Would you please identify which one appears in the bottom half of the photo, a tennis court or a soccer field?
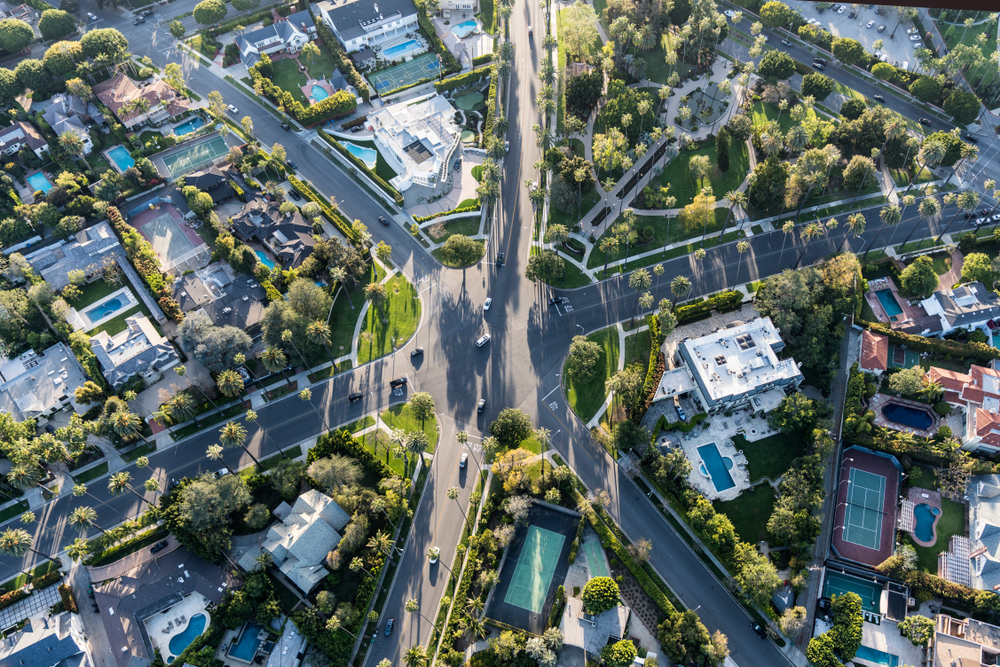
tennis court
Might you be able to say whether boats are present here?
No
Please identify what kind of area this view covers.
residential area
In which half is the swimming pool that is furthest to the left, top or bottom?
top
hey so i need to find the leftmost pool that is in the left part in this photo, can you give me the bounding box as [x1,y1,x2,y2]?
[25,170,51,195]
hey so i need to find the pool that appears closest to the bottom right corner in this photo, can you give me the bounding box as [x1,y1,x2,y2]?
[851,644,901,667]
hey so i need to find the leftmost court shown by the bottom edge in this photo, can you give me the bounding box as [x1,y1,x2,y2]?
[484,498,580,637]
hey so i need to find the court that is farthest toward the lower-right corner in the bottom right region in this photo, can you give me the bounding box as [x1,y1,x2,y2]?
[821,567,883,613]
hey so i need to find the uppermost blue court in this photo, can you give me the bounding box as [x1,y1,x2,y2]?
[369,52,446,91]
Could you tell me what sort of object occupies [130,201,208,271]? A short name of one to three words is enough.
tennis court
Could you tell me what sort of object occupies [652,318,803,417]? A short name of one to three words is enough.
house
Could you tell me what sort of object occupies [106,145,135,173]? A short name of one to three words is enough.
swimming pool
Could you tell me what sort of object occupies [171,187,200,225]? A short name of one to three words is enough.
building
